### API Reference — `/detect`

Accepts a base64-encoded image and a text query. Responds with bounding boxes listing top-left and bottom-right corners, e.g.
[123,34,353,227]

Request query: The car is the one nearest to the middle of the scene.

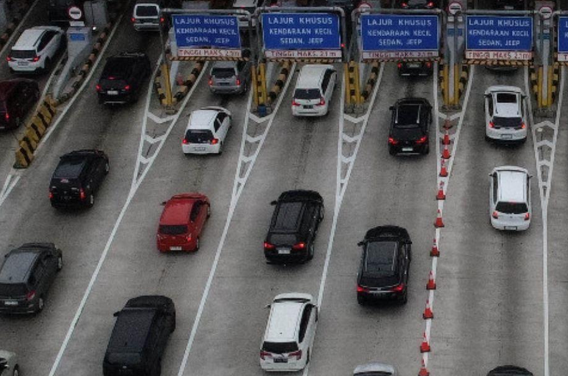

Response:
[262,184,325,262]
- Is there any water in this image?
No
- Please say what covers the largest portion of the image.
paved ground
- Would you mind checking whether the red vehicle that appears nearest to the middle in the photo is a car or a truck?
car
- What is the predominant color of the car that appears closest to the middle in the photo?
black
